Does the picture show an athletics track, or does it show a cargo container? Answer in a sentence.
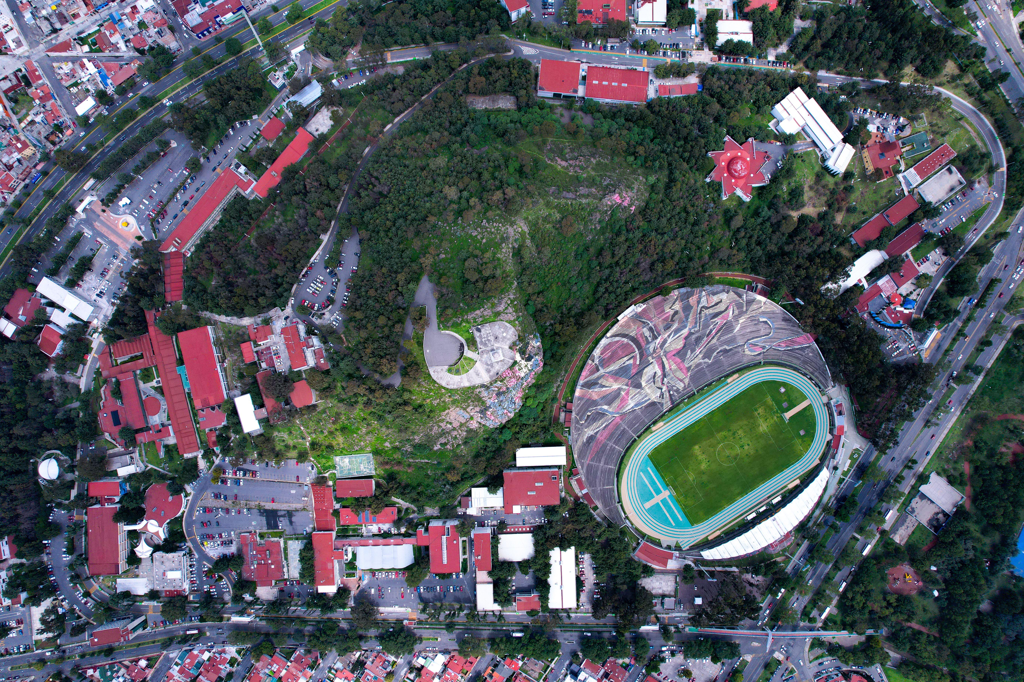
I can see an athletics track in this picture.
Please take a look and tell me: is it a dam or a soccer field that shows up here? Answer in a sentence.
The image shows a soccer field.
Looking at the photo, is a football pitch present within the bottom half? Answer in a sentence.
Yes, within the bottom half there is a football pitch.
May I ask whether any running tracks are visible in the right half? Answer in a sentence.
Yes, I can see a running track in the right half.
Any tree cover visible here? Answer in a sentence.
Yes, there's tree cover in this view.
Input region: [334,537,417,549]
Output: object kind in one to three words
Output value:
building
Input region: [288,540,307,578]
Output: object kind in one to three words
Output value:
sports court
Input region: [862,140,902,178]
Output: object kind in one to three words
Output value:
building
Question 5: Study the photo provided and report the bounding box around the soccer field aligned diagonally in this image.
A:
[638,380,817,529]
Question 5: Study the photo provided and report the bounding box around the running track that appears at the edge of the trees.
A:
[621,369,829,540]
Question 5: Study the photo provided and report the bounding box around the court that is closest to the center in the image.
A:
[334,453,375,478]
